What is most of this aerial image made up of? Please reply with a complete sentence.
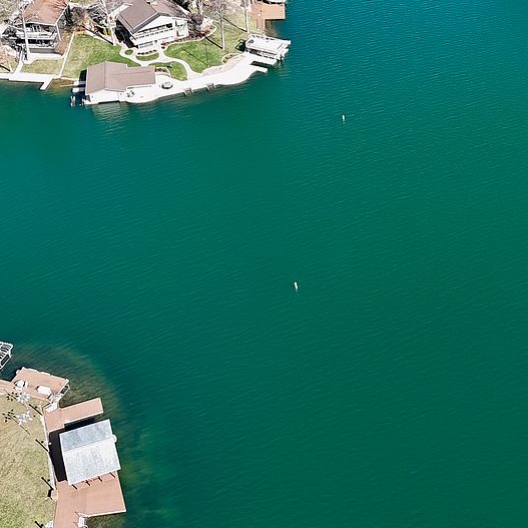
For the most part, this view shows water.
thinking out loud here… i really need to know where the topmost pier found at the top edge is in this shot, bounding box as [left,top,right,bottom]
[252,3,285,33]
